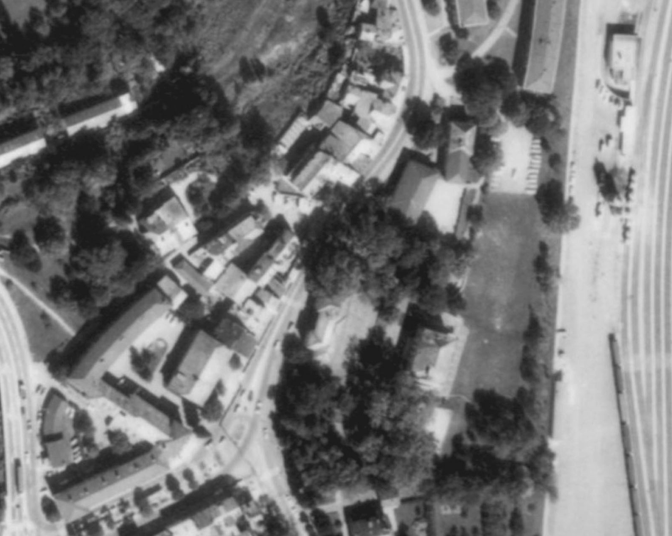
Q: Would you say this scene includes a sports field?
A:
Yes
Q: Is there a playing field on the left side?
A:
No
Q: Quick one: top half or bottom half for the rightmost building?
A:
top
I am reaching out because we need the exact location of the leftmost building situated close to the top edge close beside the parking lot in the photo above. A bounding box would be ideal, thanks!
[523,0,565,96]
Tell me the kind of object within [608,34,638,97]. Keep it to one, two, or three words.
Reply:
building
